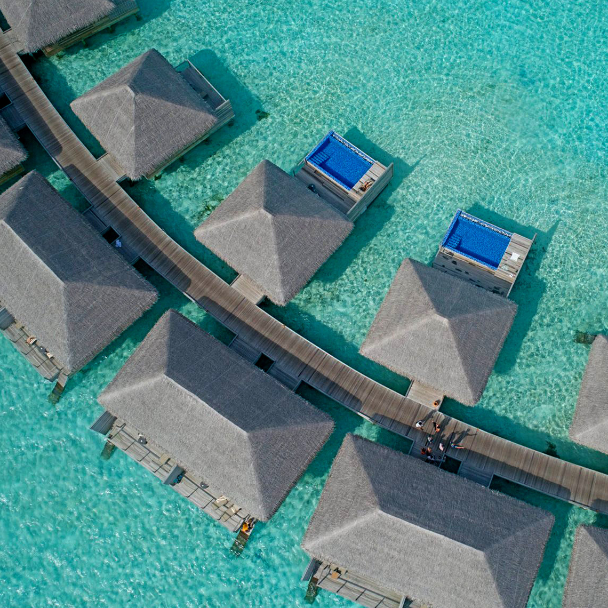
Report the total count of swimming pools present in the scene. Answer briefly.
2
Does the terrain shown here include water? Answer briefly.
Yes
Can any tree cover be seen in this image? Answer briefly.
No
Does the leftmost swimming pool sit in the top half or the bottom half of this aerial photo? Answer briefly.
top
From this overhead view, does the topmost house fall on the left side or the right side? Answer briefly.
left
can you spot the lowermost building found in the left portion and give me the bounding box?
[91,310,335,547]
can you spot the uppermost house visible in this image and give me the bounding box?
[0,0,140,66]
